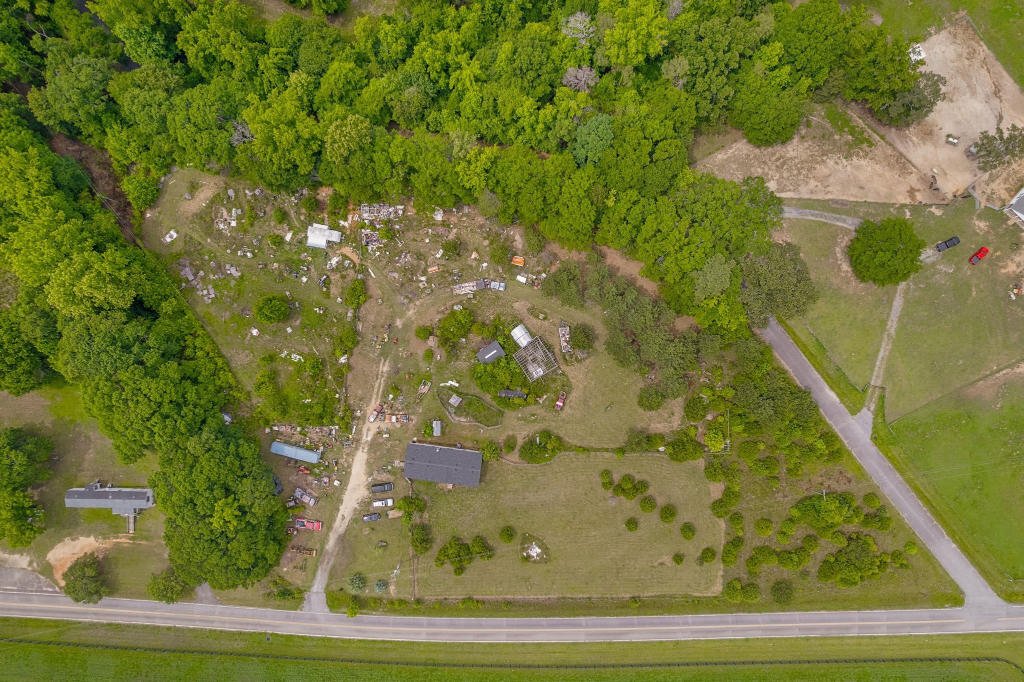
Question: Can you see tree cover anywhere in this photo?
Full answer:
Yes, tree cover shows up in the scene.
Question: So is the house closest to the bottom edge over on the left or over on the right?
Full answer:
The house closest to the bottom edge is on the left side of the image.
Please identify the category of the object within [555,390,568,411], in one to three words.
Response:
vehicle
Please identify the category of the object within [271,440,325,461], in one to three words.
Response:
bus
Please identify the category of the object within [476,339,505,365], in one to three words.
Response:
shed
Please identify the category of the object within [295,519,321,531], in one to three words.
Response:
vehicle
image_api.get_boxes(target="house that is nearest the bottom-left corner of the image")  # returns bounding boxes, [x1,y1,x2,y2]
[64,478,148,516]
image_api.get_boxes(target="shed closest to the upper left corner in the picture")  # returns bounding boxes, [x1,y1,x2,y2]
[306,224,343,250]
